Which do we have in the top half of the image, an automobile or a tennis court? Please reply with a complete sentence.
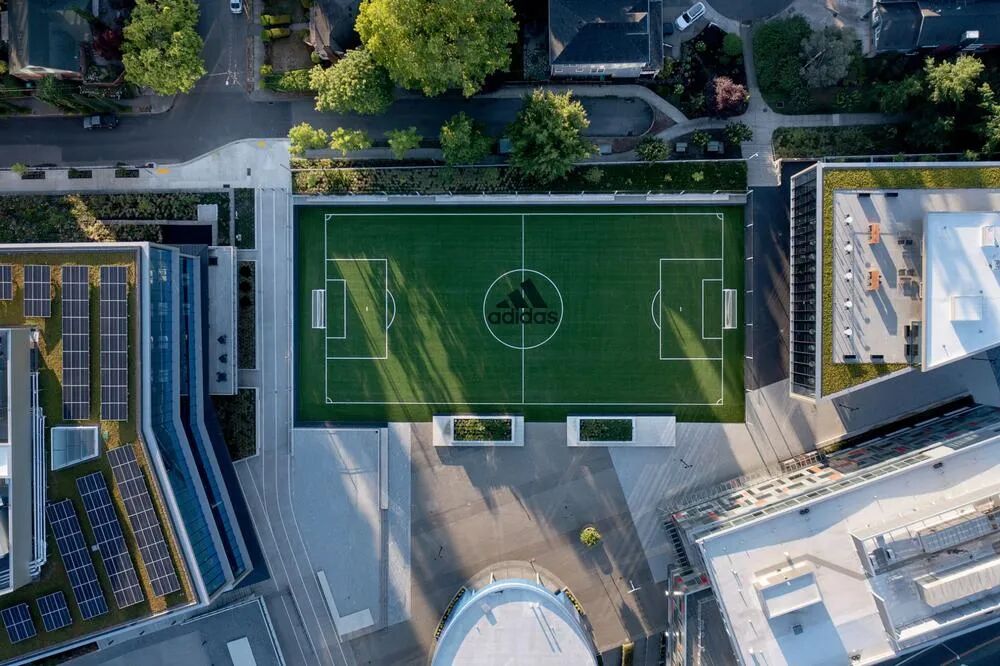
You can see an automobile in the top half of the image.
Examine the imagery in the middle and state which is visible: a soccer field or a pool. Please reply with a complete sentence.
You can see a soccer field in the middle.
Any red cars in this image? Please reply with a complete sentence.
No, no red car is visible in the view.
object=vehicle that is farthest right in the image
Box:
[674,1,706,33]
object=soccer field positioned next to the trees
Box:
[294,205,746,427]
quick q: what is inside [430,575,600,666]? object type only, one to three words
building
